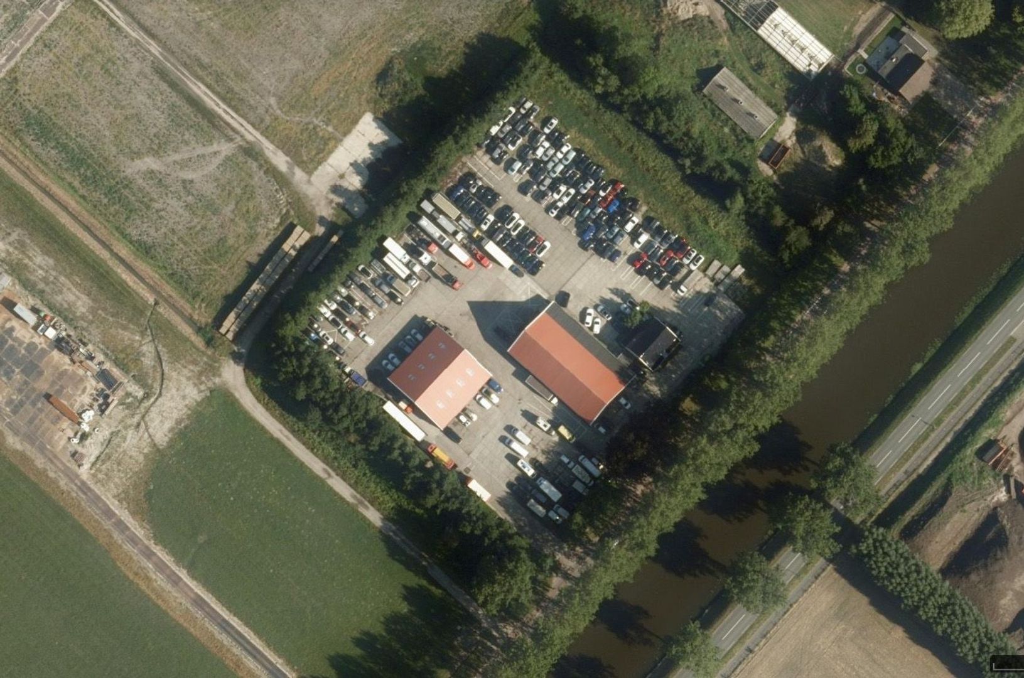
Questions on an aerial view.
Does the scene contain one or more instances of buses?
Yes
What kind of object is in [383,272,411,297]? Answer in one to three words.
truck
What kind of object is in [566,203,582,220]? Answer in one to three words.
car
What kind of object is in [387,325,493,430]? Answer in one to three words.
building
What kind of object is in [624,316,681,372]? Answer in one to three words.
house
